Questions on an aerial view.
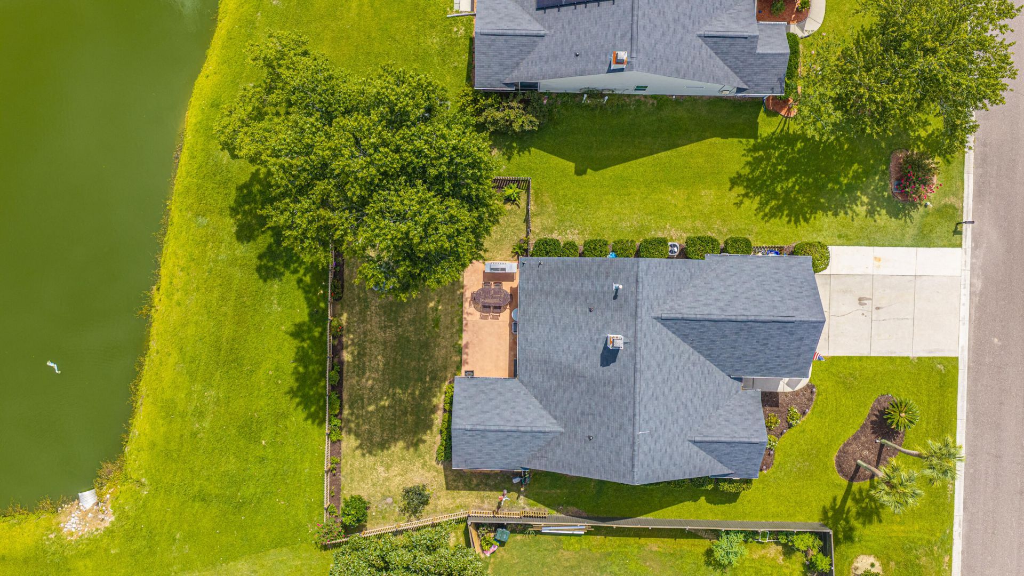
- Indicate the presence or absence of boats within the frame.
No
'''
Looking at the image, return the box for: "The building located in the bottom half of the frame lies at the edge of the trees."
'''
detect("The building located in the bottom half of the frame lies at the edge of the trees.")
[451,253,827,485]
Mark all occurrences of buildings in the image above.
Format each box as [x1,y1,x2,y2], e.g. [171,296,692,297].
[474,0,791,100]
[451,253,827,485]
